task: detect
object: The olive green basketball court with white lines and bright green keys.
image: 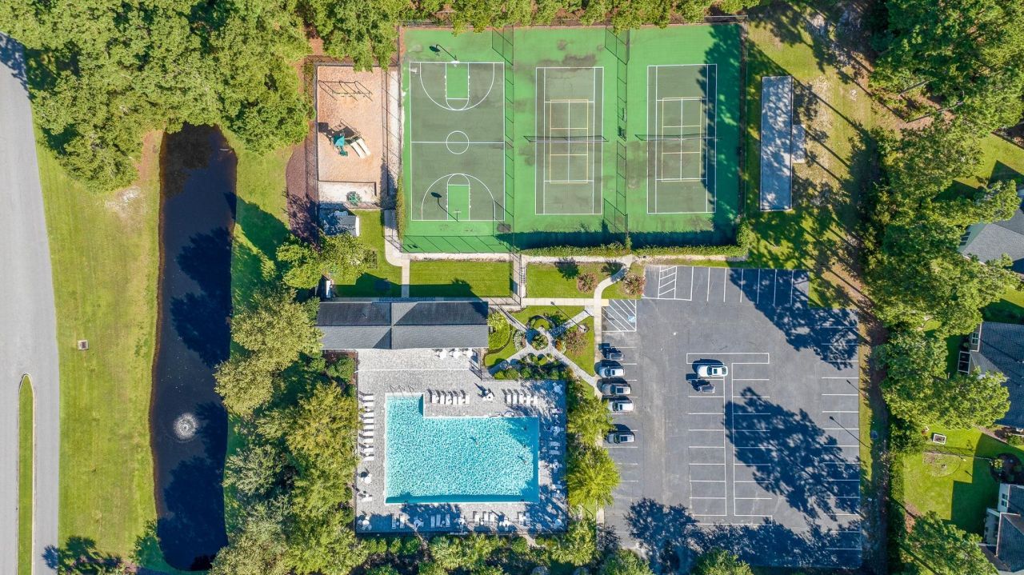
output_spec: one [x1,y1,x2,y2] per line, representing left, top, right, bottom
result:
[409,62,505,221]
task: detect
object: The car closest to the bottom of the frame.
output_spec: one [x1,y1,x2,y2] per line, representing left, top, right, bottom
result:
[607,433,637,447]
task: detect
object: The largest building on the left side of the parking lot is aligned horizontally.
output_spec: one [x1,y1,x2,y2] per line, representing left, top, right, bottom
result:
[317,300,488,351]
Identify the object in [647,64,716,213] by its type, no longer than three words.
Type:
tennis court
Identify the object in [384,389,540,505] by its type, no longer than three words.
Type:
swimming pool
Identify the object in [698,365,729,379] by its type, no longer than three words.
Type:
car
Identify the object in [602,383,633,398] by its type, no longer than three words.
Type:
car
